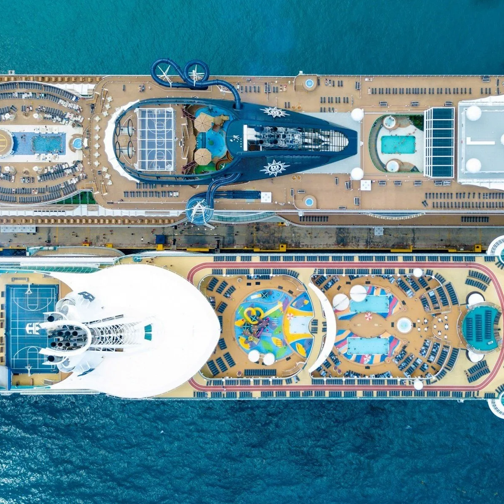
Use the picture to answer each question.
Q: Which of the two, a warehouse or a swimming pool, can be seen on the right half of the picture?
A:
swimming pool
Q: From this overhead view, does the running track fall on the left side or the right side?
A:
right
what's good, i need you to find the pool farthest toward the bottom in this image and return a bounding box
[334,330,403,365]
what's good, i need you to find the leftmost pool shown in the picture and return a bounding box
[32,135,63,153]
